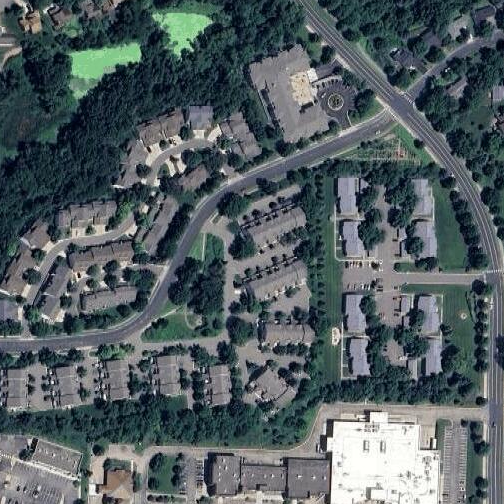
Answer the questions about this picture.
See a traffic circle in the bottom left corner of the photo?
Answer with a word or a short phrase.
No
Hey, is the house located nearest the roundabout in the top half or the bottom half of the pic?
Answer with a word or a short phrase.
top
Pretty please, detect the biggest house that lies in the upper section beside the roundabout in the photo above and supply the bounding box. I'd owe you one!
[250,44,329,148]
